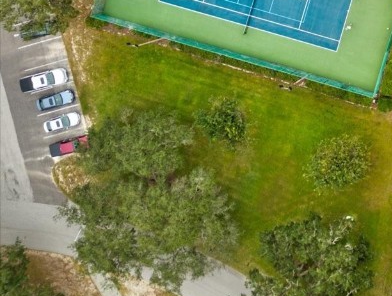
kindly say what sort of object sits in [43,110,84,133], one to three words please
car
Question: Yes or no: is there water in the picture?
No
